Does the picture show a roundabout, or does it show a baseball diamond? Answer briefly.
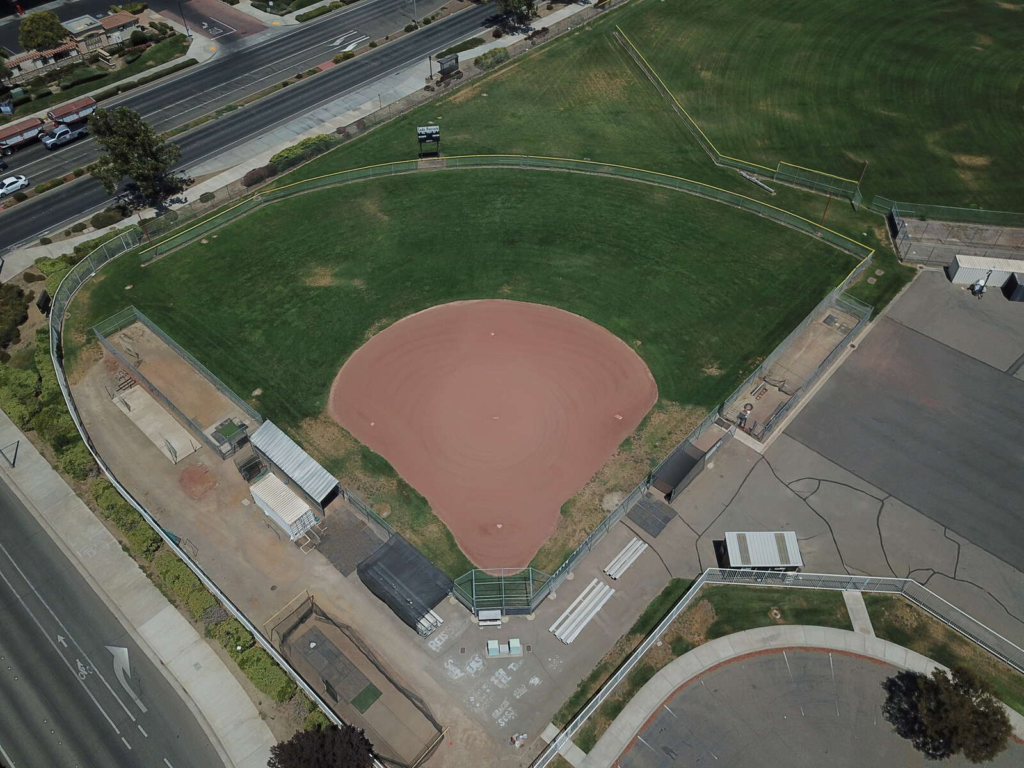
baseball diamond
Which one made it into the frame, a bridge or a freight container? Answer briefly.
freight container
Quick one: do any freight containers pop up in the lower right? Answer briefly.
No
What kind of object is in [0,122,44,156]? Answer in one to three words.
trailer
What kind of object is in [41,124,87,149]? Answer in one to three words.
truck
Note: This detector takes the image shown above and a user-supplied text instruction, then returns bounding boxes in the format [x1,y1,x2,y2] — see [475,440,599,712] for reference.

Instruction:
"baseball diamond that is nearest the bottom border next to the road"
[64,167,872,608]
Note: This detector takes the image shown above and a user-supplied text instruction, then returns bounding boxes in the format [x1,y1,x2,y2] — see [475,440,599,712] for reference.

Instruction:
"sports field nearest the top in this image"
[139,0,1024,317]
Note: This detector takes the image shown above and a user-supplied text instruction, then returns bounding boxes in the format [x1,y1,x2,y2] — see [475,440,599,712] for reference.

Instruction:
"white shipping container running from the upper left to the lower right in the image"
[249,472,315,539]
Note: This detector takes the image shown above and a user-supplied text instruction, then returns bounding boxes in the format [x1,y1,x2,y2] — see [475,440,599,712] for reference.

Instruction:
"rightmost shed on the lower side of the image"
[722,534,806,581]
